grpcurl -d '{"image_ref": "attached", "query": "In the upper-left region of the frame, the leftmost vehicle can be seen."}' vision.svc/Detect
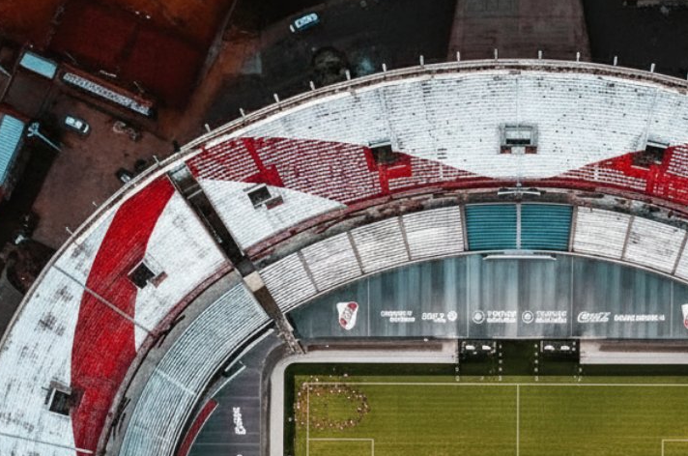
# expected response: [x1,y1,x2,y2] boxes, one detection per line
[65,114,89,132]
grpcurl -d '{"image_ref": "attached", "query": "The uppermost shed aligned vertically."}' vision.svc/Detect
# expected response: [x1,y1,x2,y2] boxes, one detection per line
[0,113,34,191]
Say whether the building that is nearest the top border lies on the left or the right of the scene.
left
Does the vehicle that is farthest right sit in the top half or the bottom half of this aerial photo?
top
